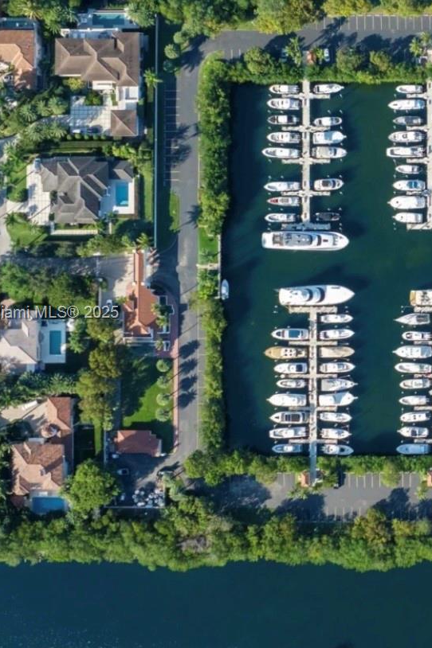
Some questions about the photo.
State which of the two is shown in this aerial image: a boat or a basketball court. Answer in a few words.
boat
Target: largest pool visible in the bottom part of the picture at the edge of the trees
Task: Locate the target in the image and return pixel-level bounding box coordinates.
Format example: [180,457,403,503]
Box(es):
[31,496,64,512]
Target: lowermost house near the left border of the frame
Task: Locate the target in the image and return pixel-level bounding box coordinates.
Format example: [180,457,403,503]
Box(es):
[9,398,75,507]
